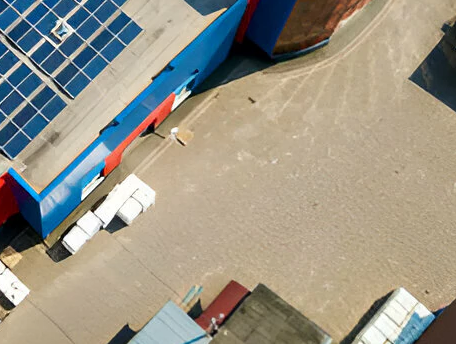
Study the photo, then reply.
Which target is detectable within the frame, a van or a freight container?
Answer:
freight container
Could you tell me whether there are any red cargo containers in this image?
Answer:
Yes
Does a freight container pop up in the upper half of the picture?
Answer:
No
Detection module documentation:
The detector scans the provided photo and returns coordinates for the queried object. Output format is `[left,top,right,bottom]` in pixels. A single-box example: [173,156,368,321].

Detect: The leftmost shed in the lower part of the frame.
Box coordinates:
[129,300,211,344]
